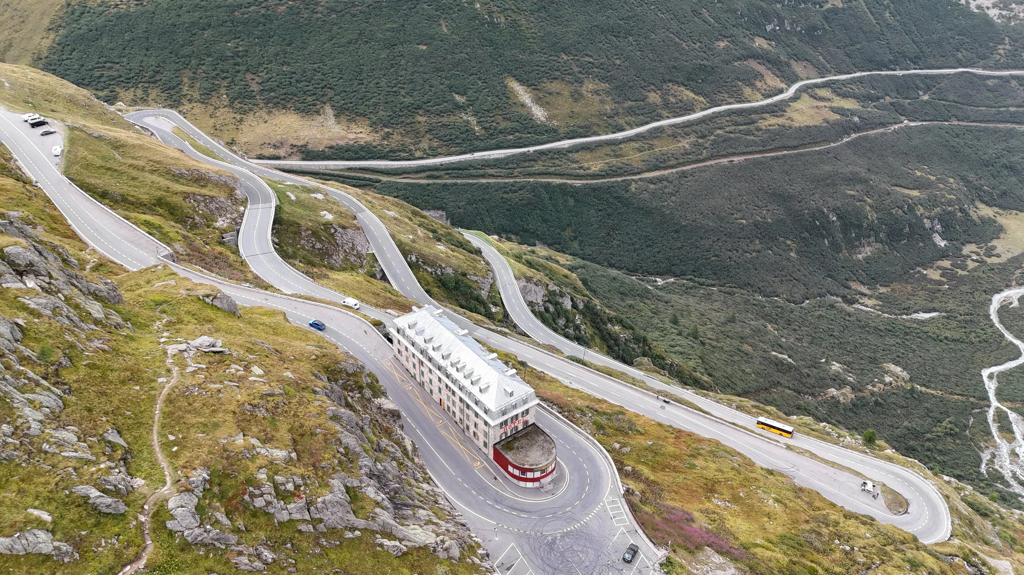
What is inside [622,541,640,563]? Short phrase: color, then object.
gray car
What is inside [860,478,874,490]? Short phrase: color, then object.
white vehicle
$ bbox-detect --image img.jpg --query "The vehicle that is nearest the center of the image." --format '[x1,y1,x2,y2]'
[344,297,362,310]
